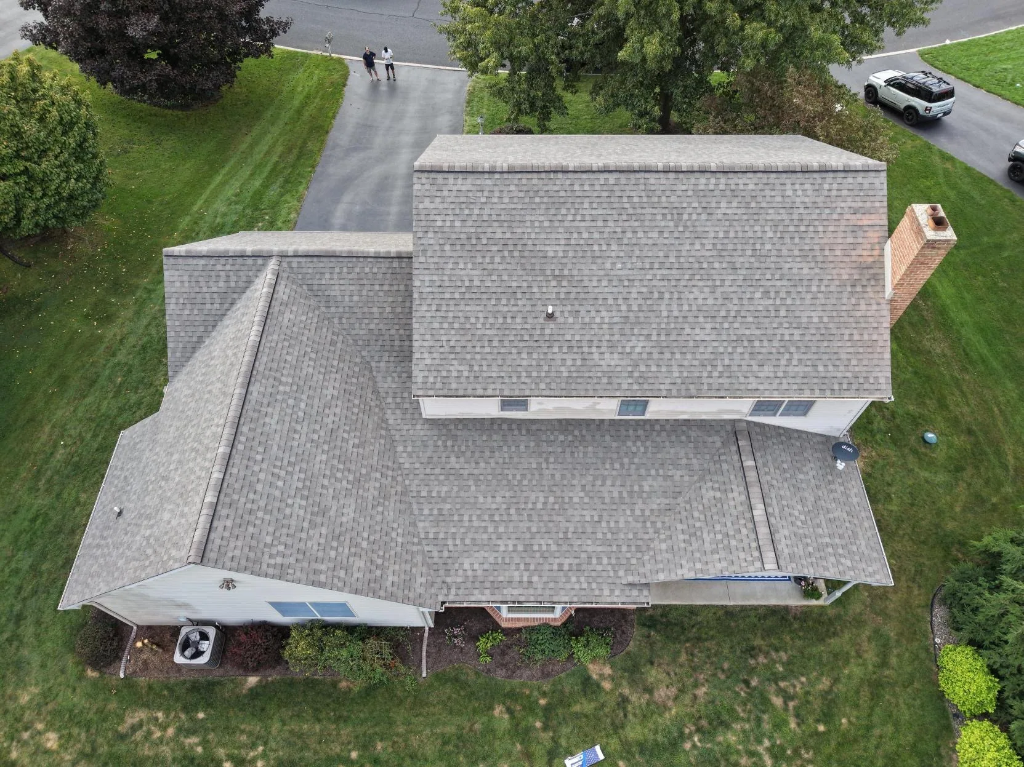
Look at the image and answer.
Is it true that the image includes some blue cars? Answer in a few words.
No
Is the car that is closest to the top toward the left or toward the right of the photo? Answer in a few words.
right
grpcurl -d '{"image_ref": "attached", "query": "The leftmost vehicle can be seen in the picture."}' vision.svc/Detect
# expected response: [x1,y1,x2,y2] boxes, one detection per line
[866,69,962,129]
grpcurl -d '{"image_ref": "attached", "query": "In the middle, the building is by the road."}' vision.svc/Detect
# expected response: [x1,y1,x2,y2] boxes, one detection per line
[54,133,959,632]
